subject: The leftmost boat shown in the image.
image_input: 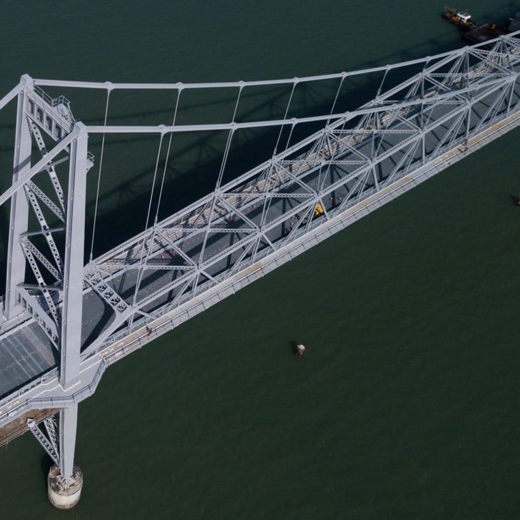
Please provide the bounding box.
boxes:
[444,1,480,26]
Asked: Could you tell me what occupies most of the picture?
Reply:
water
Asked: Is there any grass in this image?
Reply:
No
